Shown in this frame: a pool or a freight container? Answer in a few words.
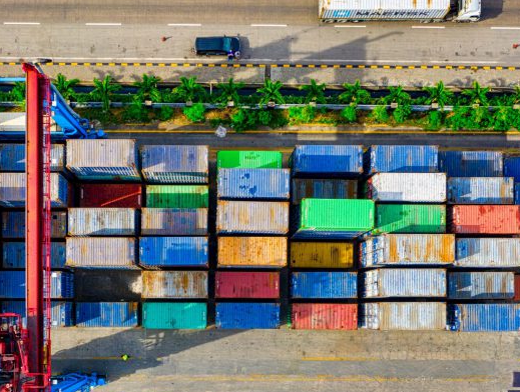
freight container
